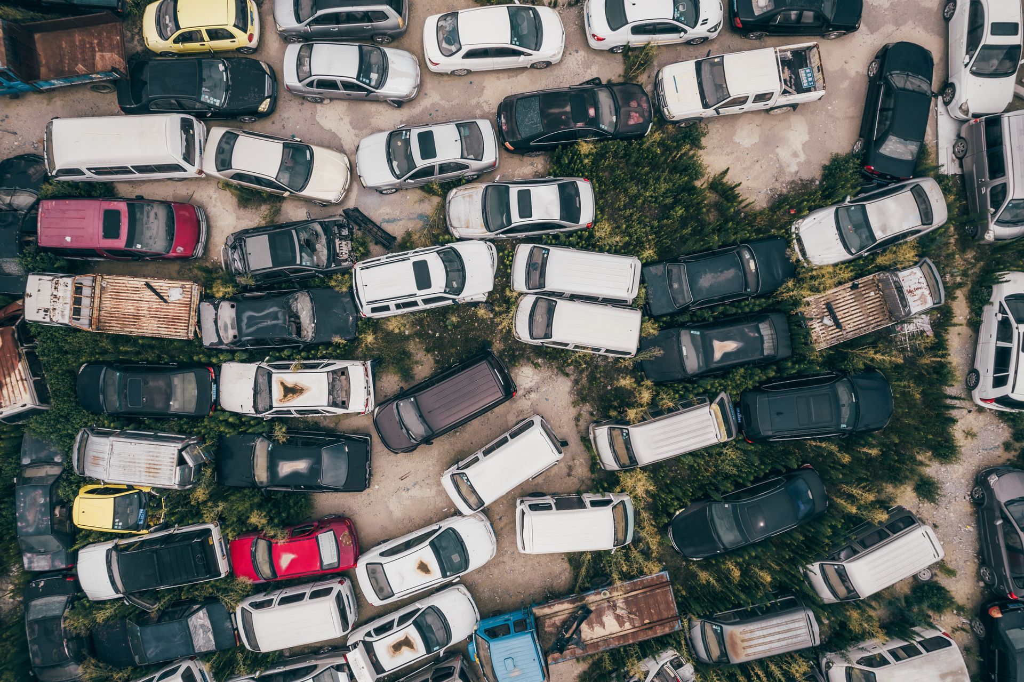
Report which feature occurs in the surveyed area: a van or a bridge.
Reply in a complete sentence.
It is a van that can be seen here.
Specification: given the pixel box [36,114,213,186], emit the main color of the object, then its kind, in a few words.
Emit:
white vehicle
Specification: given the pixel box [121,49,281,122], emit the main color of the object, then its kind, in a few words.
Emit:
black car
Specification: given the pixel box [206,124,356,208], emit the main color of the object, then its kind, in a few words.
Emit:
white car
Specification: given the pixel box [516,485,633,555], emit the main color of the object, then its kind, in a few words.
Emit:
white van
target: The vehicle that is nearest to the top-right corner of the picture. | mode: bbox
[940,0,1024,123]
